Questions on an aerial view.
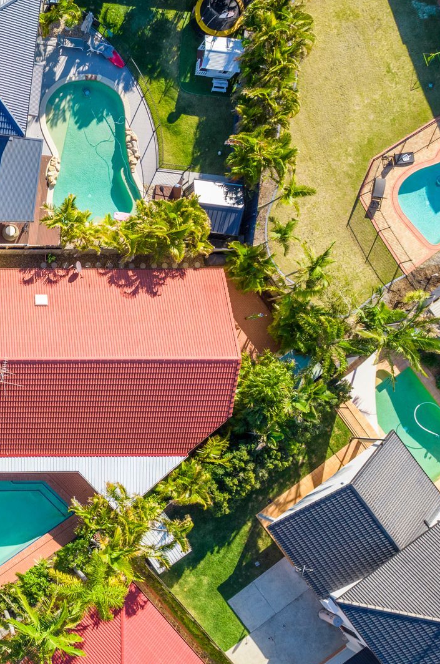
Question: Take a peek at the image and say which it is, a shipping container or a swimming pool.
swimming pool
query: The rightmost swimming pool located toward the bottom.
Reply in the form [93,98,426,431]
[376,360,440,485]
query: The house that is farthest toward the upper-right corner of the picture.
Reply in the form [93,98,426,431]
[199,33,243,94]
